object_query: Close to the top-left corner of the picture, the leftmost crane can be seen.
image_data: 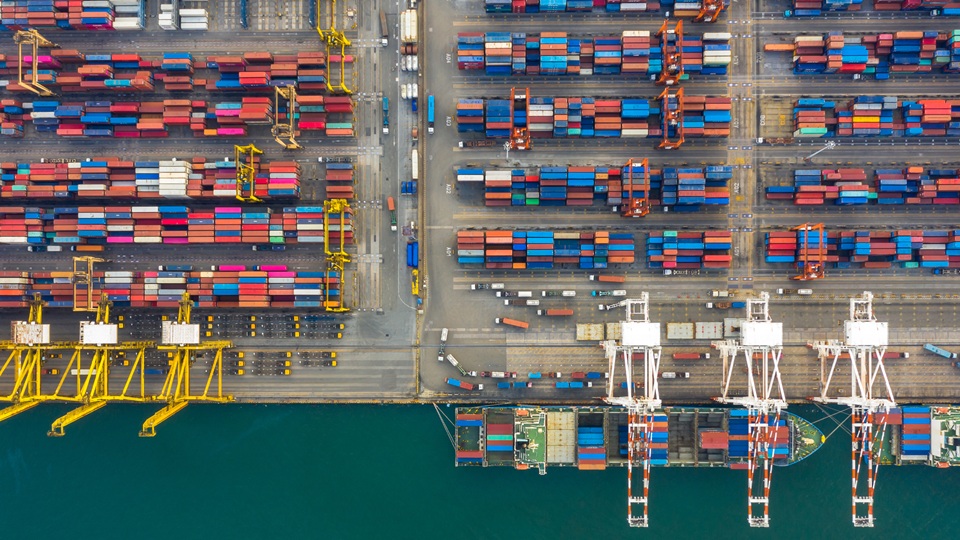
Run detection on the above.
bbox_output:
[14,29,59,96]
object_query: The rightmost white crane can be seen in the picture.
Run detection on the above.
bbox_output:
[802,289,896,530]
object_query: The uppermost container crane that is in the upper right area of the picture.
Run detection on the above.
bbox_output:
[689,0,723,22]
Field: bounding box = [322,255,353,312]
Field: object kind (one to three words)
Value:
container crane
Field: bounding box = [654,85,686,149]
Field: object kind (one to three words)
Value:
container crane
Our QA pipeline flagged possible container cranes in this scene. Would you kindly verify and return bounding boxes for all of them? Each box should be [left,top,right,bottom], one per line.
[273,84,305,149]
[802,289,896,530]
[69,255,112,312]
[707,289,786,530]
[597,289,659,530]
[654,85,686,149]
[619,156,650,217]
[506,85,533,149]
[43,289,161,442]
[652,19,685,85]
[135,289,236,442]
[14,29,59,96]
[322,255,353,312]
[233,142,267,202]
[323,27,354,94]
[0,289,100,429]
[788,222,826,280]
[322,197,353,256]
[689,0,723,22]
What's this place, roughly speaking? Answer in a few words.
port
